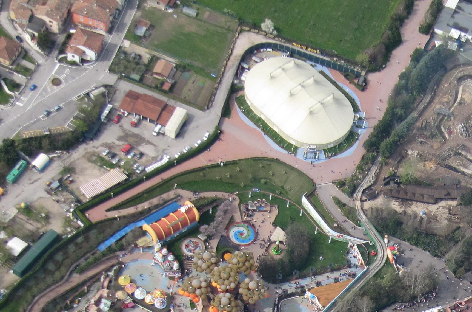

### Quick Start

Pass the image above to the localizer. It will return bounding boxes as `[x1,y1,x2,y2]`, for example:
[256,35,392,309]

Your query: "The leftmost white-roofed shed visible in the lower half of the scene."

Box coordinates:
[6,236,28,259]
